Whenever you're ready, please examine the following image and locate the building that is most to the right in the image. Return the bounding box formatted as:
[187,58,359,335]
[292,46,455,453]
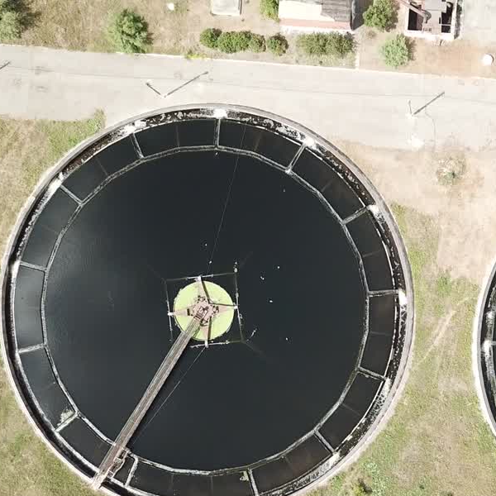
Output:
[401,0,467,48]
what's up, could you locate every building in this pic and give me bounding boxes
[275,0,366,35]
[401,0,467,48]
[211,0,243,20]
